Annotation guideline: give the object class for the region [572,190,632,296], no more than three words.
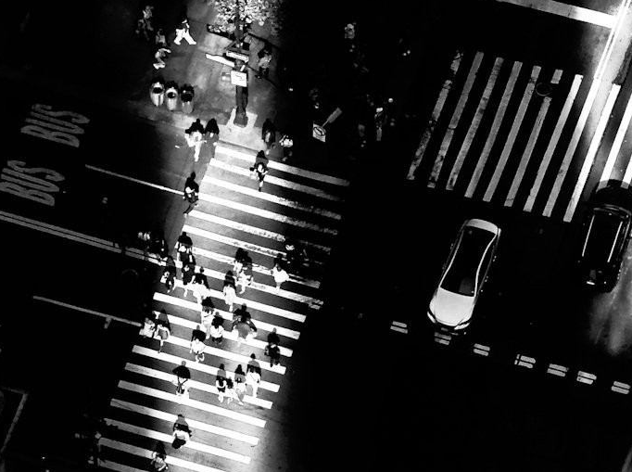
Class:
vehicle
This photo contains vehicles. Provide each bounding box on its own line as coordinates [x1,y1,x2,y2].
[572,190,632,296]
[431,220,498,331]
